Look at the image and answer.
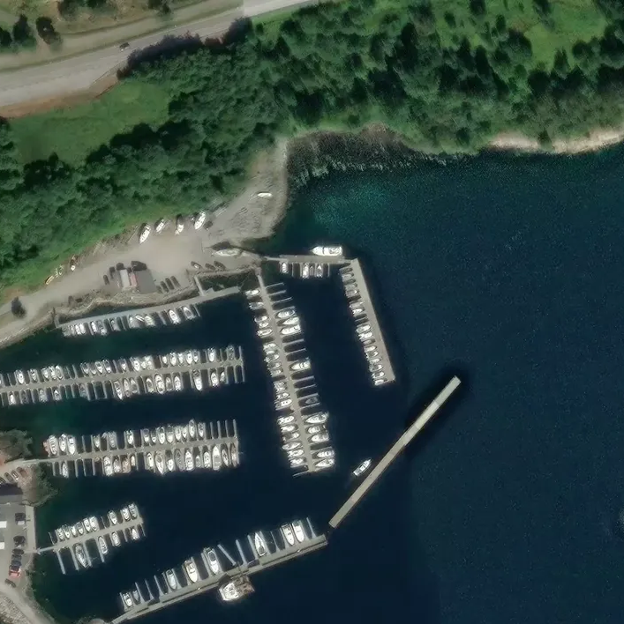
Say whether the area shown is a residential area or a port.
port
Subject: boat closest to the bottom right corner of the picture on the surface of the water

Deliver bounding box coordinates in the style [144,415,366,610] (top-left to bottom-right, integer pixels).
[352,461,371,476]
